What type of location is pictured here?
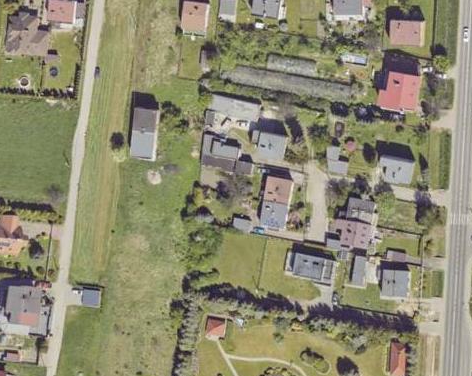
residential area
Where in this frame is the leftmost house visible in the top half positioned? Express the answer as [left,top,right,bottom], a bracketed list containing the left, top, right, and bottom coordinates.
[6,12,50,57]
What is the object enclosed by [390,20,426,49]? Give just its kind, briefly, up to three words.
house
